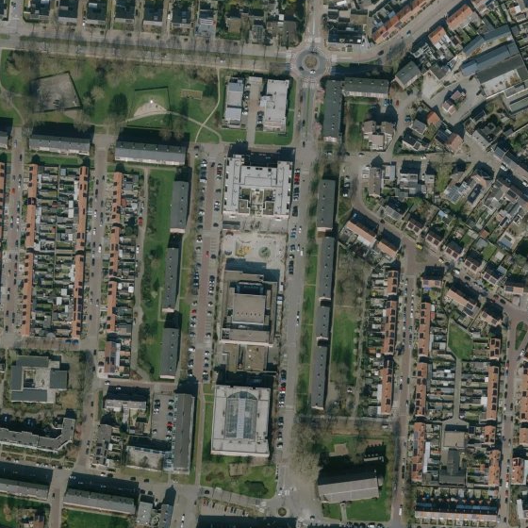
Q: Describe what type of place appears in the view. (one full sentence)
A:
This looks like a residential area.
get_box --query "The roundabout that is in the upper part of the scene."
[290,41,332,81]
